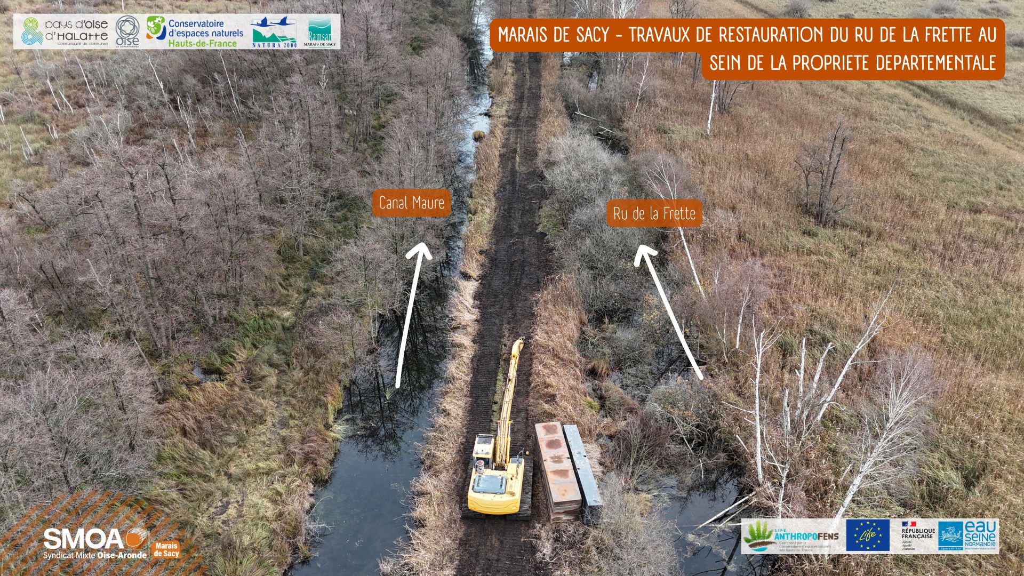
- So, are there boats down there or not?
No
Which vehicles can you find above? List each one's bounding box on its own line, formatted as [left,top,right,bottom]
[461,335,534,518]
